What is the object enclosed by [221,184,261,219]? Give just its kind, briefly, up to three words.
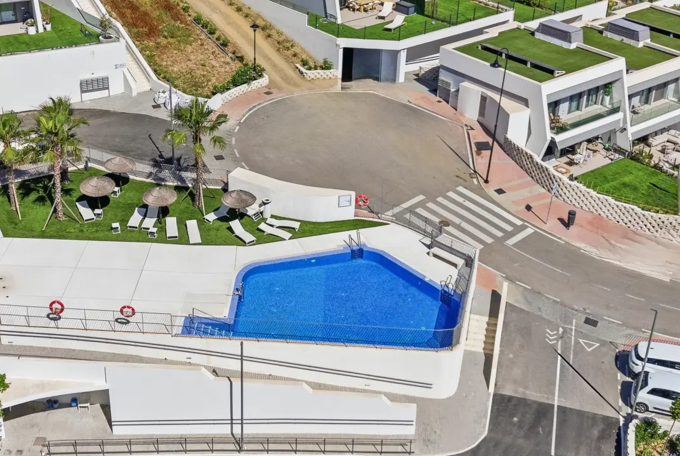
umbrella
